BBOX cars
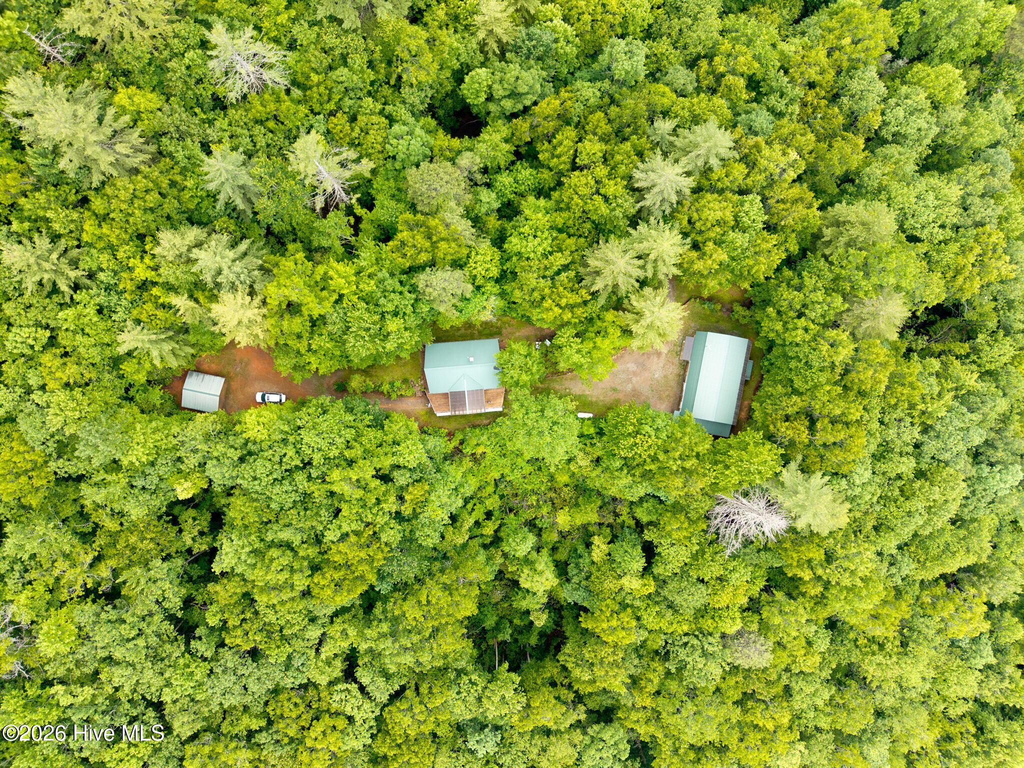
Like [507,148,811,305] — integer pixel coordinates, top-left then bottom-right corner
[256,391,286,404]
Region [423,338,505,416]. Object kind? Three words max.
house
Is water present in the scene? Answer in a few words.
No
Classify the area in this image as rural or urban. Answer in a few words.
rural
